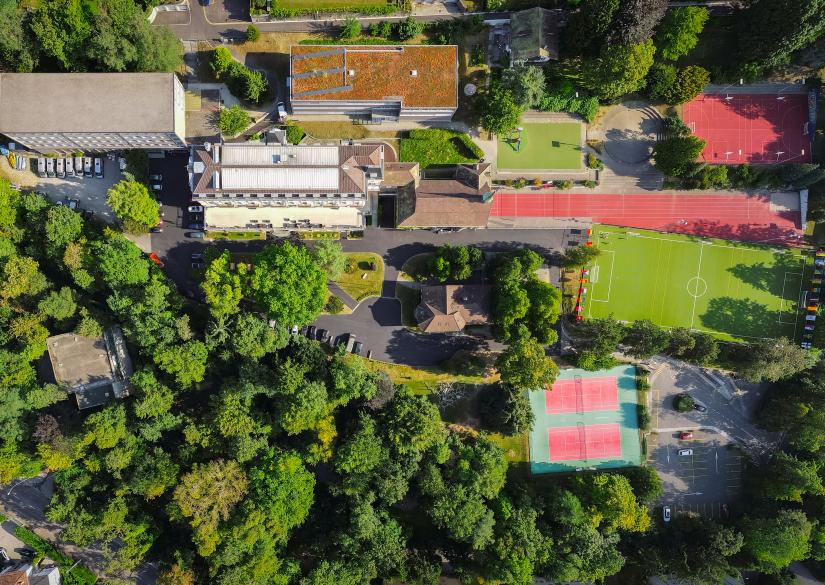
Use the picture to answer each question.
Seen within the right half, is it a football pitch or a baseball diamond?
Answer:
football pitch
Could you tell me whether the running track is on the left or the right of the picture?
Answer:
right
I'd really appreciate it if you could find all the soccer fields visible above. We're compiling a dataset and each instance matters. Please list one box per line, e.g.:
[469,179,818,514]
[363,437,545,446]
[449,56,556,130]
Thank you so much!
[579,222,812,347]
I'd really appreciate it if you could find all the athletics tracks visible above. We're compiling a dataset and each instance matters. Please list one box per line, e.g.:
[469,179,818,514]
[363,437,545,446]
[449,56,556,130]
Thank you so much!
[488,192,803,248]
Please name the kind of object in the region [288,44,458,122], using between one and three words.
building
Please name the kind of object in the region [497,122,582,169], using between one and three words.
sports court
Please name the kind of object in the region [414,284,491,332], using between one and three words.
building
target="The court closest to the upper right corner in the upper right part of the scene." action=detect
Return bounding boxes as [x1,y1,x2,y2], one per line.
[684,93,812,165]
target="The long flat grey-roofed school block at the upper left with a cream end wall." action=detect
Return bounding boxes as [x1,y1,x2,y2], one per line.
[0,72,189,148]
